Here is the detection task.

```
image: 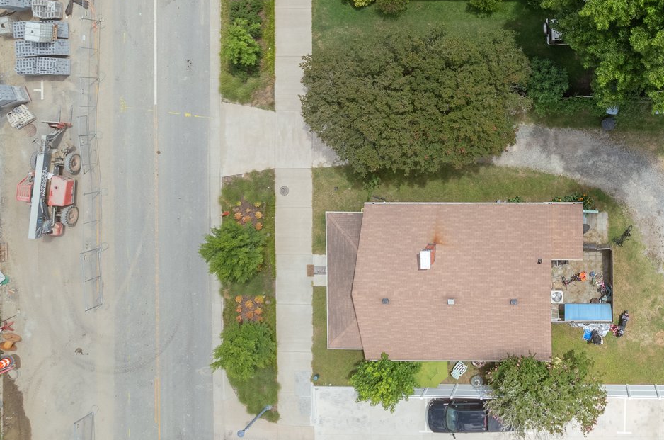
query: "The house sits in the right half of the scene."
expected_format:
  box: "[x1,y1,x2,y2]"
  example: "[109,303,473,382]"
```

[326,201,583,362]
